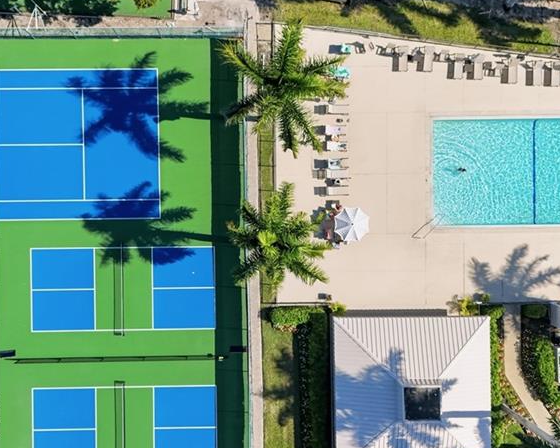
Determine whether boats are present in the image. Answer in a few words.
No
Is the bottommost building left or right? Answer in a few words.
right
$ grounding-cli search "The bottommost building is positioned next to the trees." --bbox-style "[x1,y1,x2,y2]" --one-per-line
[331,315,493,448]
